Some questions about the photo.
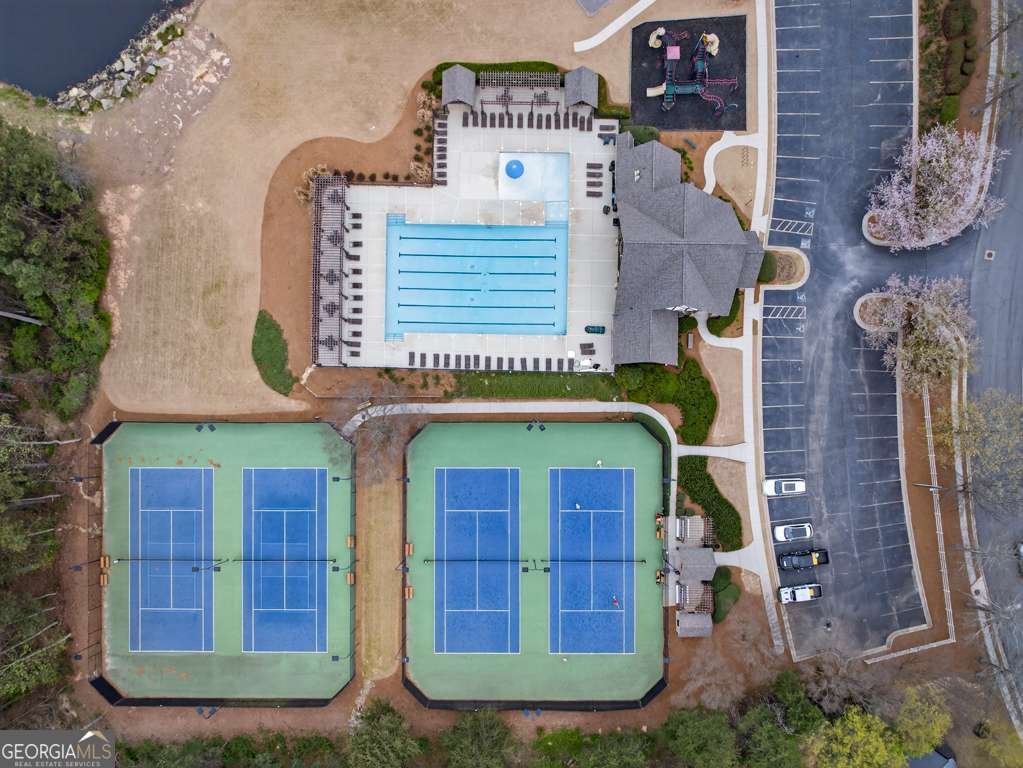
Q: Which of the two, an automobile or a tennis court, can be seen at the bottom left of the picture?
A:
tennis court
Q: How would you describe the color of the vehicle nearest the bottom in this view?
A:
white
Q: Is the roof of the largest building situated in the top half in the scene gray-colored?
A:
Yes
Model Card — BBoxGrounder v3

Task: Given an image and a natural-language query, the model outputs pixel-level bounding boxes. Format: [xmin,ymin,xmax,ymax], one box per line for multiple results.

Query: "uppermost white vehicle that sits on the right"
[763,478,806,497]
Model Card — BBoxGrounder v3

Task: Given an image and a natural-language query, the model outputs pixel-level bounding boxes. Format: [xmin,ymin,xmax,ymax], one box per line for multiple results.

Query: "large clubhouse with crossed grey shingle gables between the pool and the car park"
[612,131,766,365]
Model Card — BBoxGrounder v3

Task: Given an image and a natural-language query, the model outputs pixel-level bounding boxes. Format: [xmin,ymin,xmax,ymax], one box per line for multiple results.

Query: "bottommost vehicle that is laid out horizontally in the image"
[777,583,823,604]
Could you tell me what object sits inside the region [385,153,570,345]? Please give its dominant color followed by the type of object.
blue swimming pool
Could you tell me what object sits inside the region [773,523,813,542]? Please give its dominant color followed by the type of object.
white car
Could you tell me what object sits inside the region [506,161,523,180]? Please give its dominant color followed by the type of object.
blue fountain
